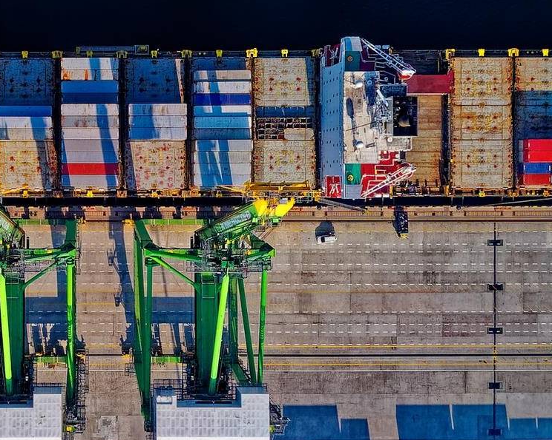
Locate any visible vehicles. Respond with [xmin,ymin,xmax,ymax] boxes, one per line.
[398,205,413,241]
[318,233,339,243]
